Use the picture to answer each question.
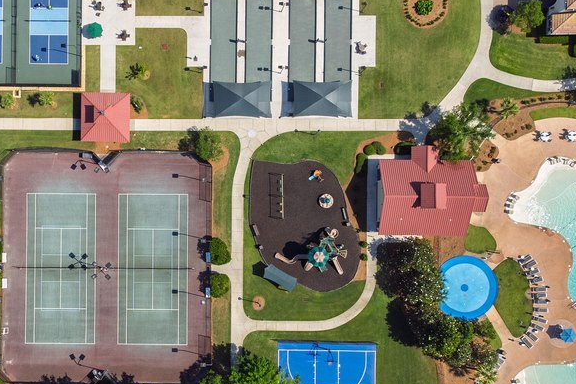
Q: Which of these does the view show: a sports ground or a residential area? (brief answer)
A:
sports ground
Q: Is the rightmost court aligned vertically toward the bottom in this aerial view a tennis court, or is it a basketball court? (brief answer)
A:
tennis court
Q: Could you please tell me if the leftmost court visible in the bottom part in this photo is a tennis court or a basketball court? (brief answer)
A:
tennis court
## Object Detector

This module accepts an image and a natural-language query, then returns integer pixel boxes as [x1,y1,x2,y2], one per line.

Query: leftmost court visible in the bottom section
[3,151,106,383]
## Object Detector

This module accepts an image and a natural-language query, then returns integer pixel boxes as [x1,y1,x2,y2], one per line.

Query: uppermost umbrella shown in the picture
[84,21,103,40]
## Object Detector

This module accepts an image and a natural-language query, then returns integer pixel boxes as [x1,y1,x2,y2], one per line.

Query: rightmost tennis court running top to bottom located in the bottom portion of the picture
[105,152,211,383]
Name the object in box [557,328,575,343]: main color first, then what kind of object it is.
blue umbrella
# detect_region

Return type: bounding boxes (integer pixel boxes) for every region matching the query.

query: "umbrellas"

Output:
[557,328,575,343]
[84,21,103,40]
